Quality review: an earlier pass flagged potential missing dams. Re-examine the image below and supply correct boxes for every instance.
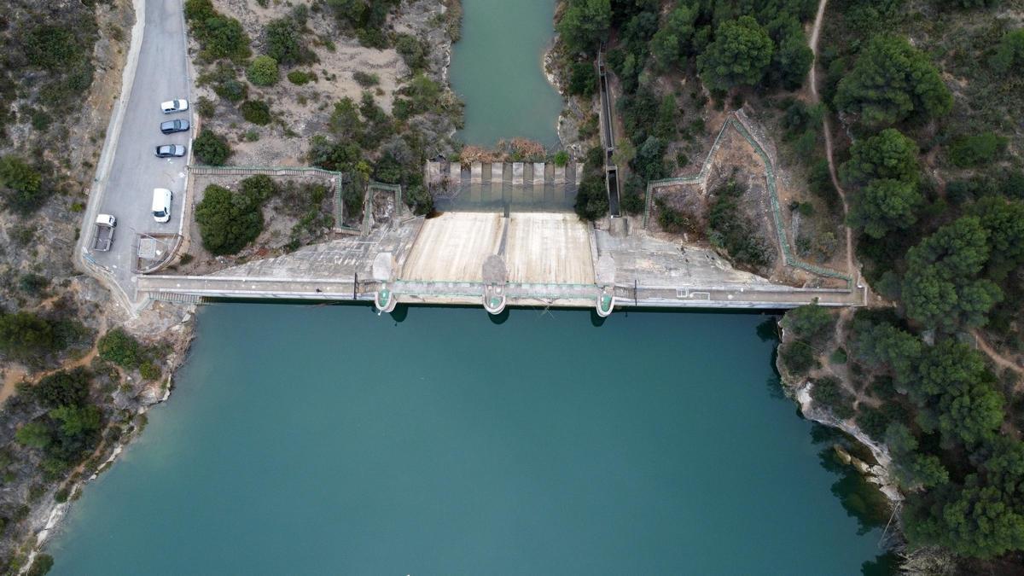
[138,152,870,320]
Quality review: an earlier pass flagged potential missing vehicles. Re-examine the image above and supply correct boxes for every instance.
[160,118,191,135]
[92,214,115,252]
[160,99,190,114]
[152,187,173,222]
[155,143,187,158]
